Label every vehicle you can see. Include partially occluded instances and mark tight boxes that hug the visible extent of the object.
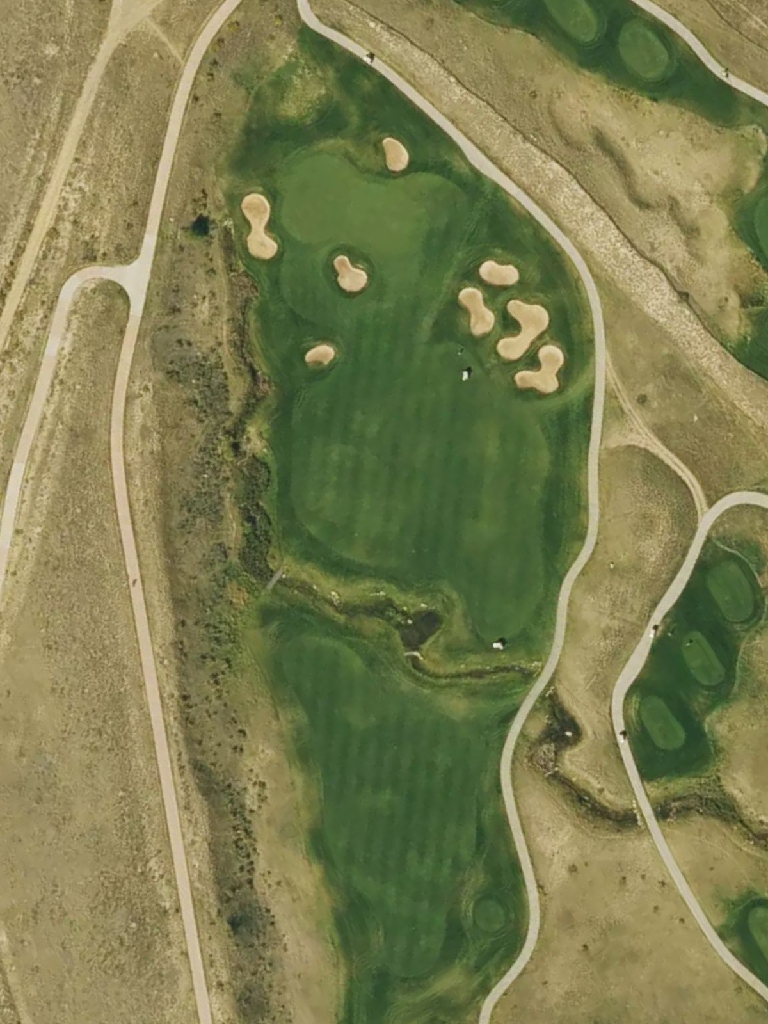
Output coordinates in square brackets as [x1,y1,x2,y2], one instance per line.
[462,370,469,381]
[618,733,625,744]
[648,628,655,639]
[493,643,504,649]
[363,56,373,66]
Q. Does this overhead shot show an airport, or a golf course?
golf course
